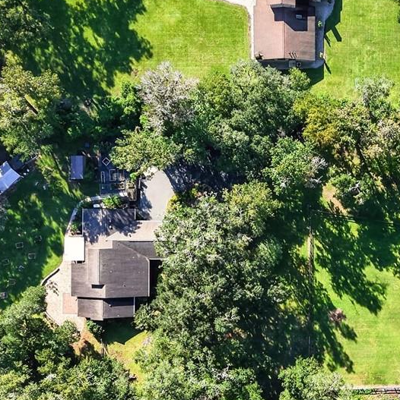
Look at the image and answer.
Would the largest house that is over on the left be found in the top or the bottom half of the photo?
bottom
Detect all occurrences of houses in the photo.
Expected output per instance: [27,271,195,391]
[254,0,322,61]
[64,209,173,320]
